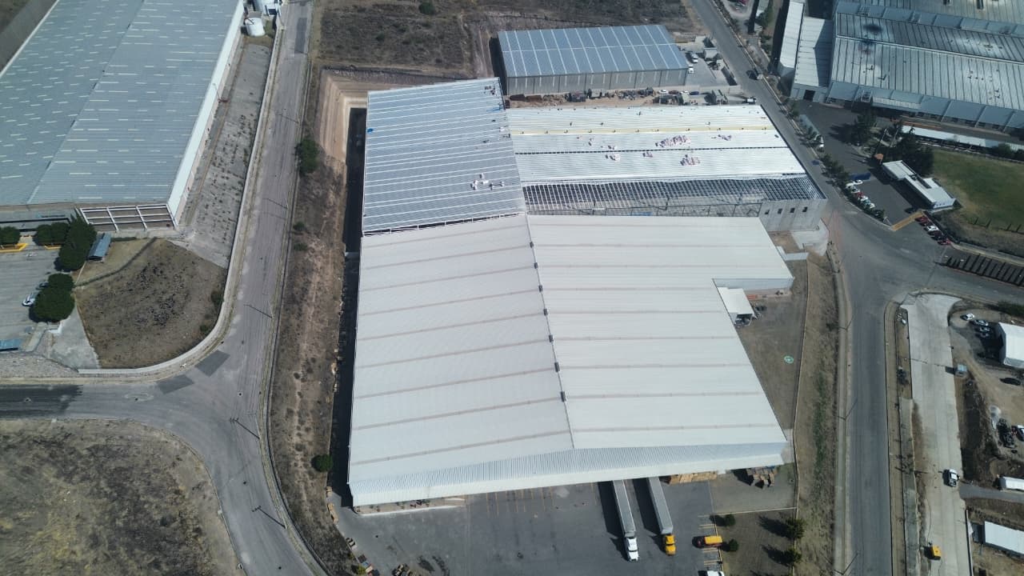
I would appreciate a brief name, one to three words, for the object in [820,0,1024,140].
building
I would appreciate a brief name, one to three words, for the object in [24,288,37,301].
vehicle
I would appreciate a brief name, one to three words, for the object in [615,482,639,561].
truck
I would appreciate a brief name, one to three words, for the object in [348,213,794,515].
warehouse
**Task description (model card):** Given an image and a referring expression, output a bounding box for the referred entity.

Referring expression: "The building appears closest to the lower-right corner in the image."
[972,522,1024,561]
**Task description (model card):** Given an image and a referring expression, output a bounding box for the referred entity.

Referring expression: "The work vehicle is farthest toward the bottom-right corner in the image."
[925,543,947,561]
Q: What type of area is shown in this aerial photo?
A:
industrial area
